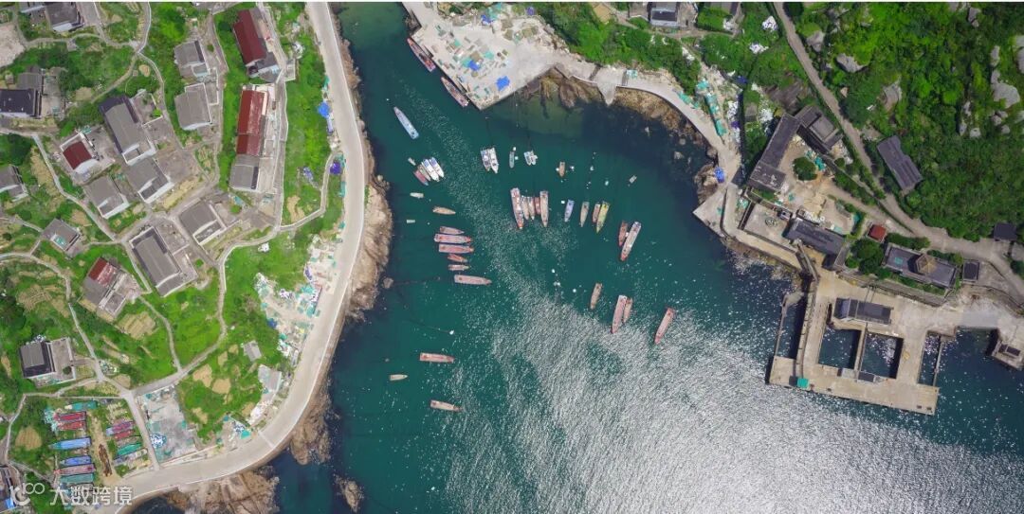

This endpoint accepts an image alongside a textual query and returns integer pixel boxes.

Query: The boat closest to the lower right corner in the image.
[656,307,675,344]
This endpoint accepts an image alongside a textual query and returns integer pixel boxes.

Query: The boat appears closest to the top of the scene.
[407,37,436,73]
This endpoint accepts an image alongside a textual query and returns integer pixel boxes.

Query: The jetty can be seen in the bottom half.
[767,248,1024,415]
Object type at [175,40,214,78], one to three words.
house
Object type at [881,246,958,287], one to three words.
house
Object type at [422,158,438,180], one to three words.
boat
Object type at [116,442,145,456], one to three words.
boat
